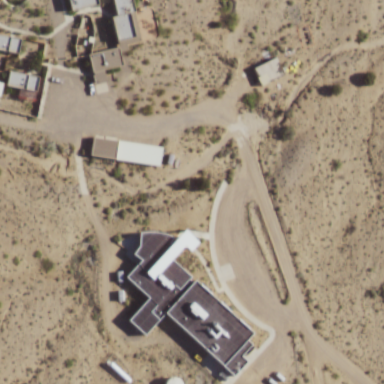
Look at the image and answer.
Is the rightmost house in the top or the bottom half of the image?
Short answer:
top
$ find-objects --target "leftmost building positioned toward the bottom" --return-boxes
[127,230,196,335]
